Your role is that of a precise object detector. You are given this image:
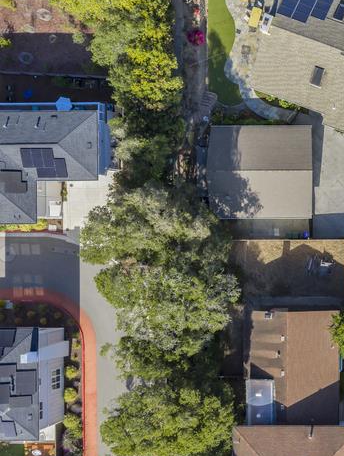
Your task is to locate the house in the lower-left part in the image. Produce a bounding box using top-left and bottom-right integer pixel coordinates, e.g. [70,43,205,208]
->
[0,323,70,441]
